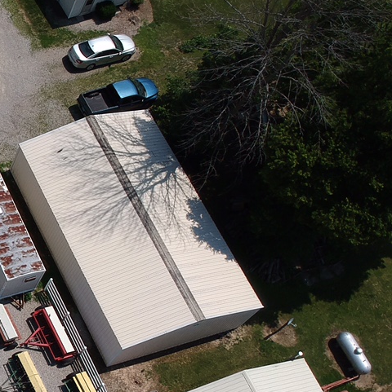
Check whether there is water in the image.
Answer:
No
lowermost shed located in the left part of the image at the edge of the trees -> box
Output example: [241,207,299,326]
[13,106,264,365]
